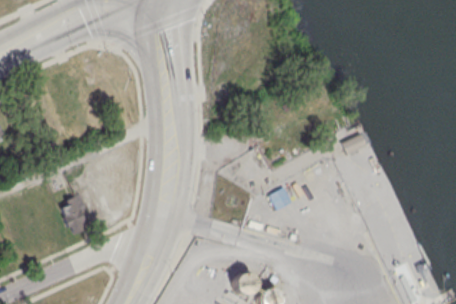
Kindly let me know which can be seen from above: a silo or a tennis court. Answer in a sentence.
There is a silo in the scene.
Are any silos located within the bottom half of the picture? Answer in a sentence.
Yes, a silo appears within the bottom half of the picture.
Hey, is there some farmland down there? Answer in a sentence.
No, there is no farmland in the image.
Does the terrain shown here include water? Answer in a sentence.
Yes, the picture does contain water.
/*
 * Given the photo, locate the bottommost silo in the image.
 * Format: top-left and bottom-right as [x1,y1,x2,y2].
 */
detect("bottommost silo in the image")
[259,288,285,304]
